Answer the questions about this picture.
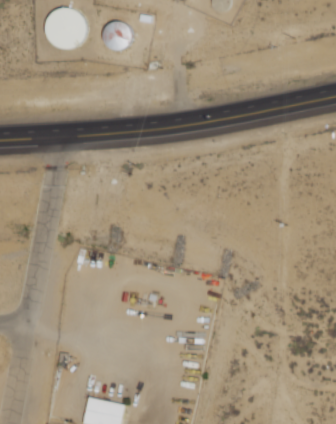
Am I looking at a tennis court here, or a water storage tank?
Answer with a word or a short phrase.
water storage tank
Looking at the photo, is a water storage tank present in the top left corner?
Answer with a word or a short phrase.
Yes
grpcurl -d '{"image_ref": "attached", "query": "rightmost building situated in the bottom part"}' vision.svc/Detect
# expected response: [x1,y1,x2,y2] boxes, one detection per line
[83,396,126,424]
